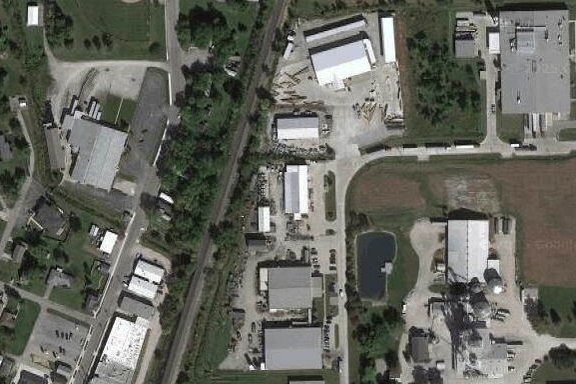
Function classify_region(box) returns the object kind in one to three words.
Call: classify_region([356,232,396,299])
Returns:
pond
